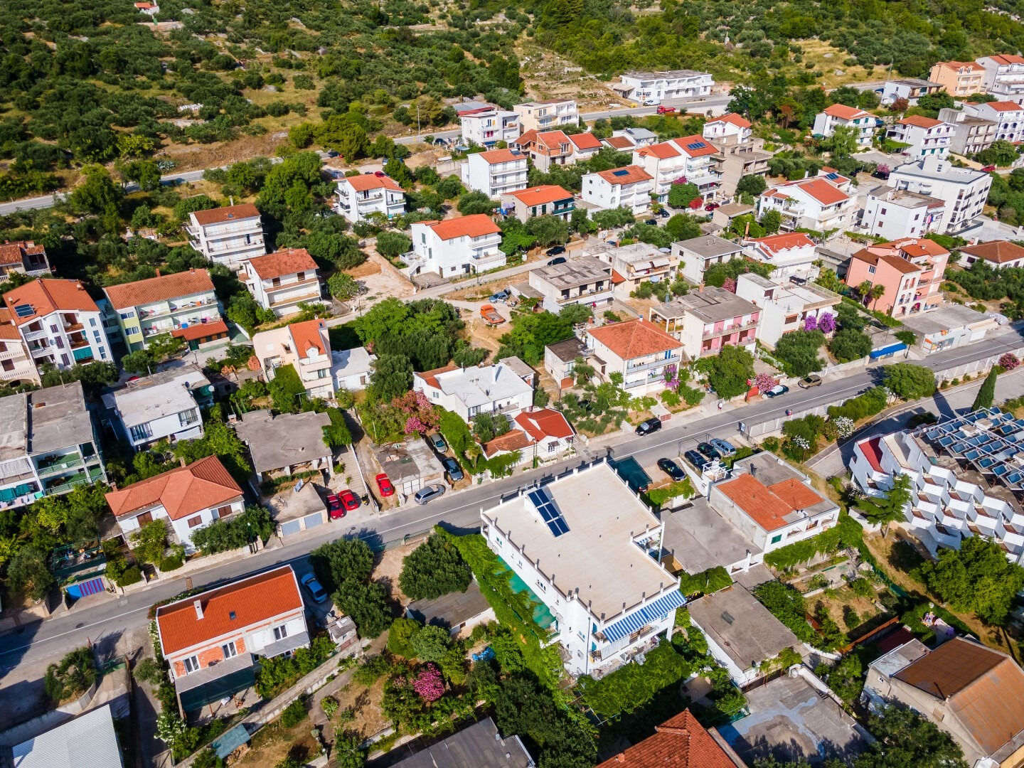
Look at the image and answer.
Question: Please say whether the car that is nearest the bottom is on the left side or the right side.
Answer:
left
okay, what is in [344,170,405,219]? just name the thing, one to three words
house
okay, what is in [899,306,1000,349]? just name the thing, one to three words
building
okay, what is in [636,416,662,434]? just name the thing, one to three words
vehicle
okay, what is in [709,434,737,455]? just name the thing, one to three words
car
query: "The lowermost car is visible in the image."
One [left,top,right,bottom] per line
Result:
[302,573,326,600]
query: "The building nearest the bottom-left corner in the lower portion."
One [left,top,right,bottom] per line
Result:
[12,703,130,768]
